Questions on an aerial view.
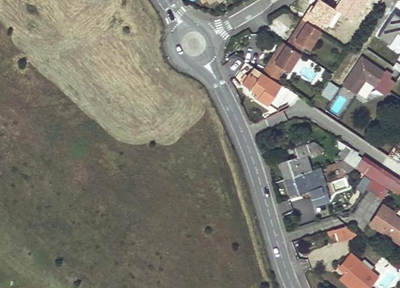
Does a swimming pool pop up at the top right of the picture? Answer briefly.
Yes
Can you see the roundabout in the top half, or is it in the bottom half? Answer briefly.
top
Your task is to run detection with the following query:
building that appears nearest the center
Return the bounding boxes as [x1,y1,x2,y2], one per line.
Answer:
[242,70,281,106]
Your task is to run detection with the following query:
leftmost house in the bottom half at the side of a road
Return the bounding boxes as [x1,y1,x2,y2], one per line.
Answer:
[276,142,330,216]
